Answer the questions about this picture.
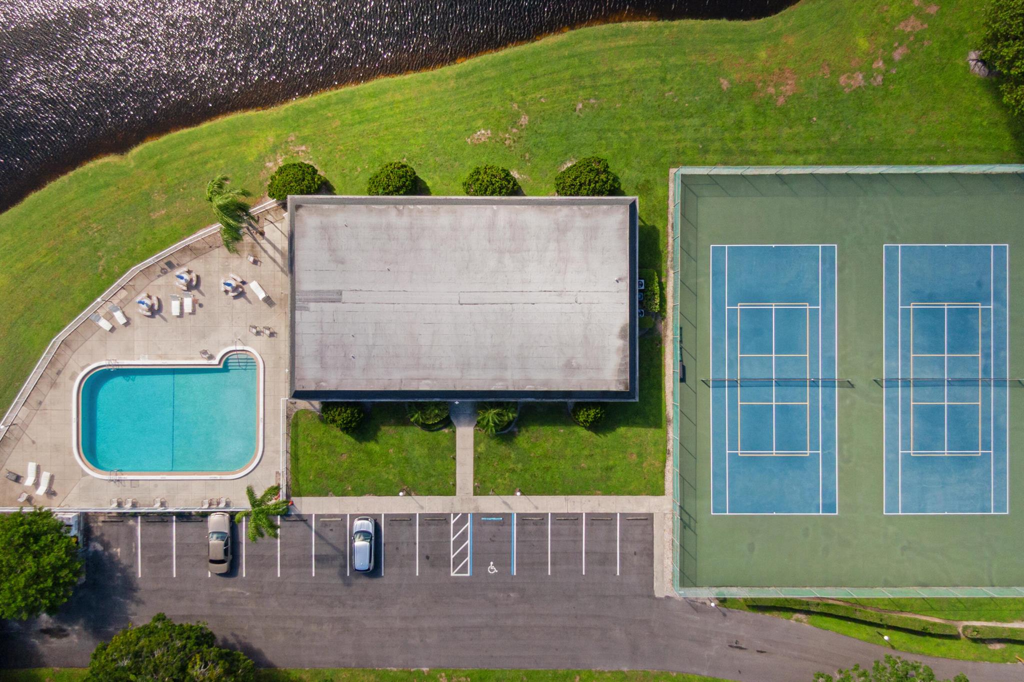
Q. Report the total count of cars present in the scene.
2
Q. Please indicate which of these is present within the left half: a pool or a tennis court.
pool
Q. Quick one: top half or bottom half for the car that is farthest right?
bottom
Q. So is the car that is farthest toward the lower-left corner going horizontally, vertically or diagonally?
vertically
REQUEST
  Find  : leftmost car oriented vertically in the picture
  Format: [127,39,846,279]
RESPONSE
[205,514,232,574]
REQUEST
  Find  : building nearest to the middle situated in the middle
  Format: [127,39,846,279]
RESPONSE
[288,195,639,401]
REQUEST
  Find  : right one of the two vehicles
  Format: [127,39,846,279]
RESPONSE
[350,516,377,573]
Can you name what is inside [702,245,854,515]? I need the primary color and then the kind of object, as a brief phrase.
blue tennis court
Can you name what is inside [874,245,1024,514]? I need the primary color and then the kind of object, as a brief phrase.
blue tennis court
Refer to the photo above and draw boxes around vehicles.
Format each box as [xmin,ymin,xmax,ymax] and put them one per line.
[205,514,232,574]
[350,516,377,573]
